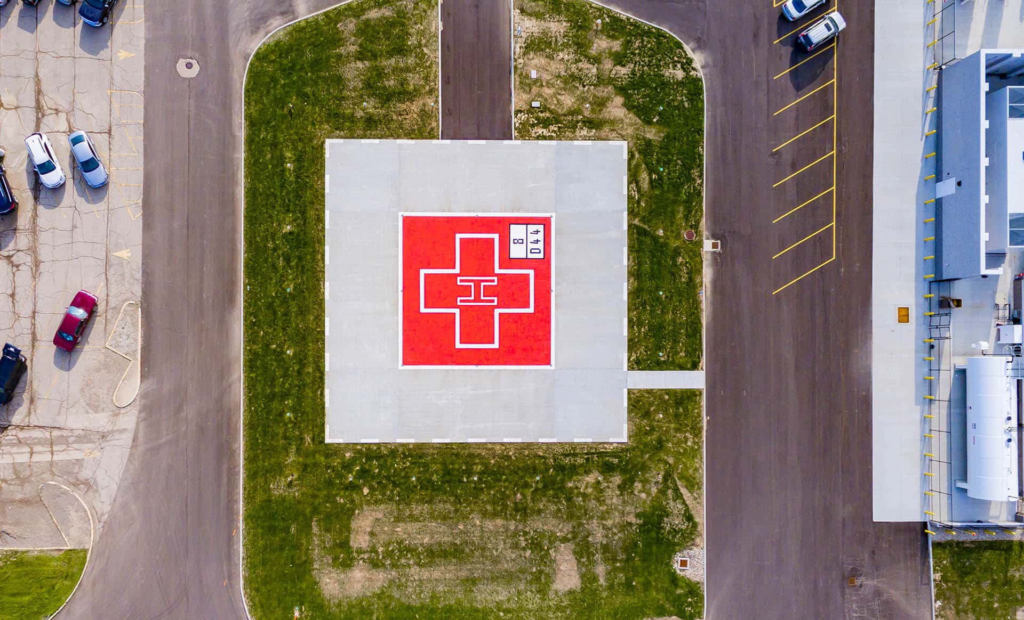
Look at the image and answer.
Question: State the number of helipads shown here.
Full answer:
I count just 1 helipad.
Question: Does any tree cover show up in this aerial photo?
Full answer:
No, tree cover can't be seen anywhere here.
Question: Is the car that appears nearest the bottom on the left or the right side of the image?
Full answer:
It is on the left.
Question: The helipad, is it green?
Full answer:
No, the helipad is actually white.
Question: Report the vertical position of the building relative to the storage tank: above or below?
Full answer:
The position of the building is above the storage tank.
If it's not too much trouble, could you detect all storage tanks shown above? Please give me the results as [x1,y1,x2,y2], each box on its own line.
[956,352,1024,499]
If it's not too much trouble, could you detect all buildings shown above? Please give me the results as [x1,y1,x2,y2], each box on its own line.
[936,49,1024,281]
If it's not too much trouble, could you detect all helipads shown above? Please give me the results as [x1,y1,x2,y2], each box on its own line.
[326,139,628,442]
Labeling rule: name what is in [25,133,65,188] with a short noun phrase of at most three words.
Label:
car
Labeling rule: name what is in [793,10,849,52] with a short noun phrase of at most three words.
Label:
car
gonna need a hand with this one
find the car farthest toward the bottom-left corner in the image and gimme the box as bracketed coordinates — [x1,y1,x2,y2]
[0,348,25,402]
